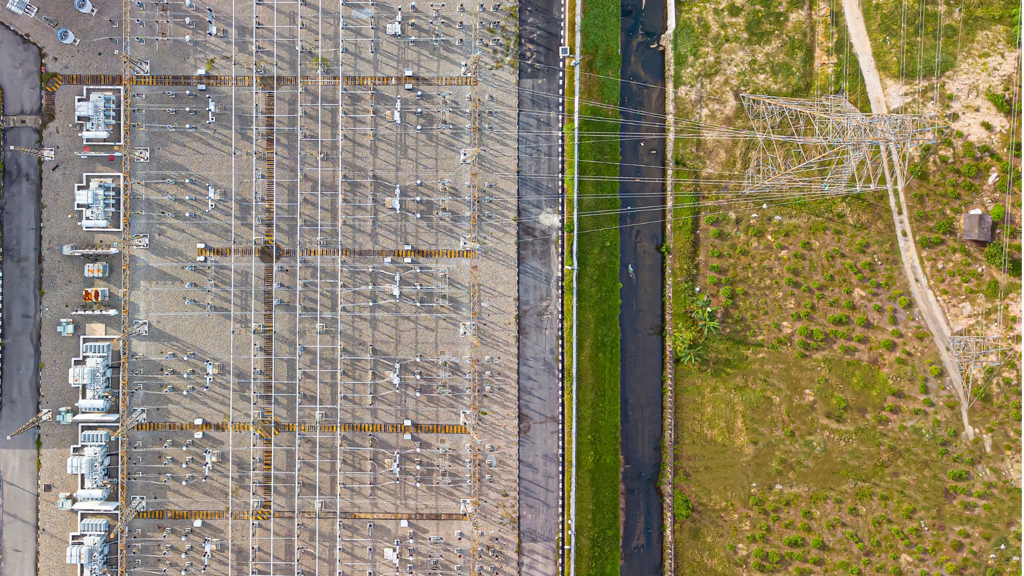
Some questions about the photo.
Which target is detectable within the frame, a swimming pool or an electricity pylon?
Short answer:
electricity pylon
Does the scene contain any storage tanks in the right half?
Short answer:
No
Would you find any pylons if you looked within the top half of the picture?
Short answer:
Yes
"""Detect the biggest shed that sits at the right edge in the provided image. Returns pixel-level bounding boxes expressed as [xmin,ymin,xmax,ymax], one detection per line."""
[954,214,990,241]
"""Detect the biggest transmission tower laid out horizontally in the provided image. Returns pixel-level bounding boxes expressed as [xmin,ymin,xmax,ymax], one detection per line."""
[737,91,956,193]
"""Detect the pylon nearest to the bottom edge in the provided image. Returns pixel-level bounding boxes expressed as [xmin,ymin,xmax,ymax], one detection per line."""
[948,333,1014,408]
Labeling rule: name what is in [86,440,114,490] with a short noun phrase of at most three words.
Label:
storage tank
